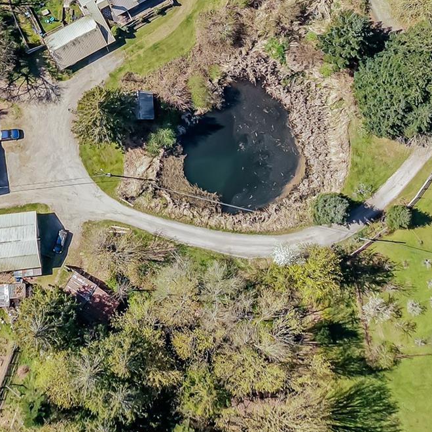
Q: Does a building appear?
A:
Yes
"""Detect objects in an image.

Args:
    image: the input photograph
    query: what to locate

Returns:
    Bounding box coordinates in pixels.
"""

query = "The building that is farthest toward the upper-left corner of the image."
[44,15,105,70]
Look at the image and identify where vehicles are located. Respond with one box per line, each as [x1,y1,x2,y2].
[0,129,24,142]
[52,227,68,256]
